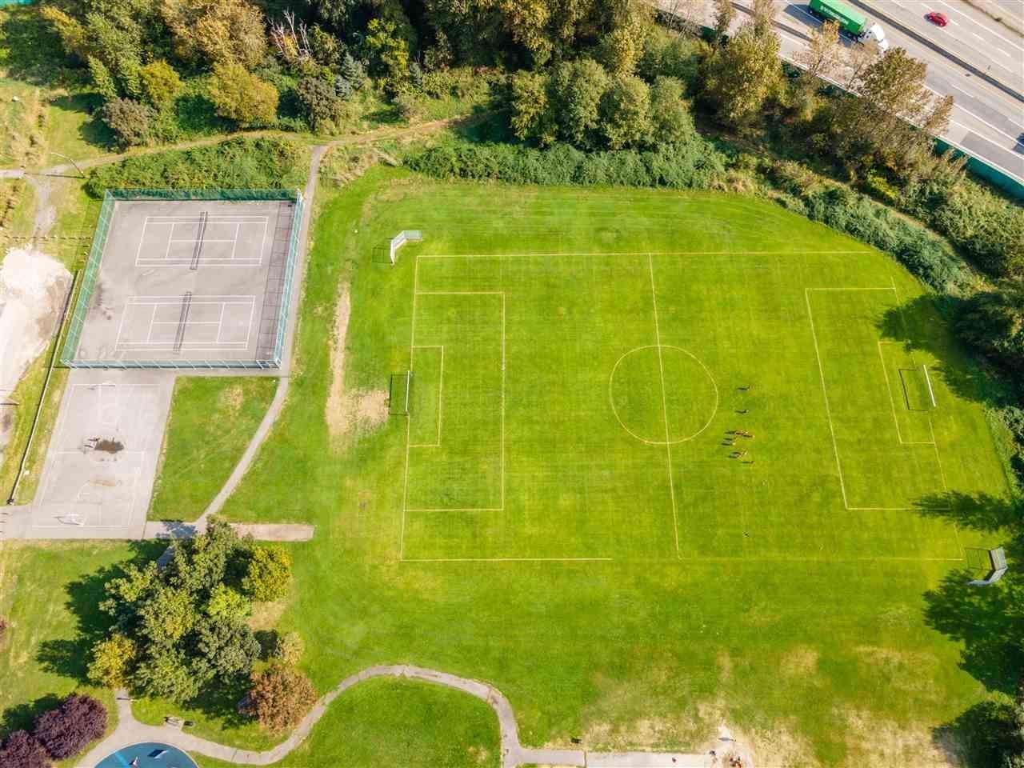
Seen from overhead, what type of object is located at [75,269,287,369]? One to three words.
tennis court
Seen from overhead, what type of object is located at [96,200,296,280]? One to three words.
tennis court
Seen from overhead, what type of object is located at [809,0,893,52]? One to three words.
truck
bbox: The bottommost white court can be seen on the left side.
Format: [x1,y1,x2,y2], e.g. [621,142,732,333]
[32,371,174,539]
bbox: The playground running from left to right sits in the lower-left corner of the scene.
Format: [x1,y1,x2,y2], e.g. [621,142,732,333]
[100,740,192,768]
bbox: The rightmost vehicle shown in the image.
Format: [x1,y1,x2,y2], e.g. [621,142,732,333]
[928,11,950,25]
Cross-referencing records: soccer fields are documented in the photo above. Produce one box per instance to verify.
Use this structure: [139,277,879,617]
[393,249,963,567]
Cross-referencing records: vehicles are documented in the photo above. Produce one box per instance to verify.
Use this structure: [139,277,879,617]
[809,0,893,52]
[928,11,950,25]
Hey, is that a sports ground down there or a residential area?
sports ground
